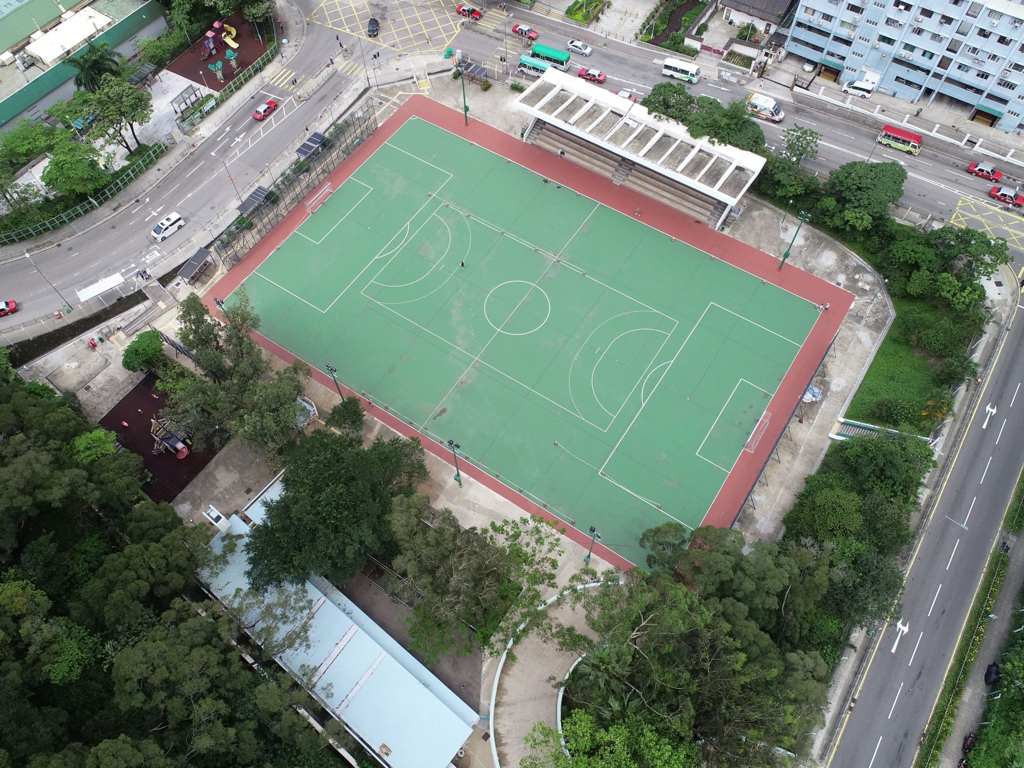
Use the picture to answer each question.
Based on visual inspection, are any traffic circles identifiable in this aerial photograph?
No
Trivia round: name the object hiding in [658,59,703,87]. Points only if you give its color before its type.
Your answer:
white vehicle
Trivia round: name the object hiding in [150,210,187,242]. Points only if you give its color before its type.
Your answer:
white vehicle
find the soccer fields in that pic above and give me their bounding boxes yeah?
[197,92,856,601]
